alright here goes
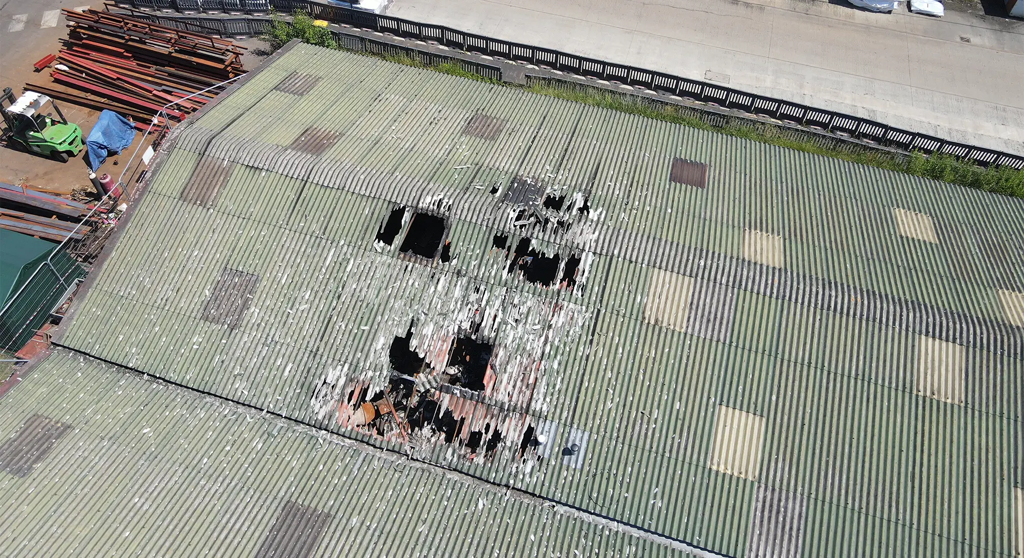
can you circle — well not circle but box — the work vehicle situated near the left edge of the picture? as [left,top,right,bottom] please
[0,89,93,164]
